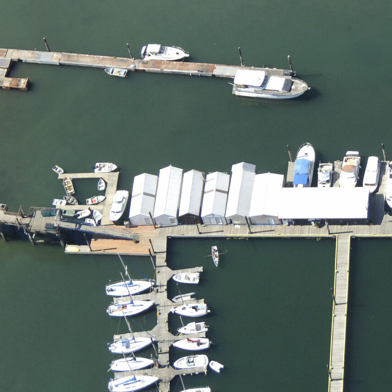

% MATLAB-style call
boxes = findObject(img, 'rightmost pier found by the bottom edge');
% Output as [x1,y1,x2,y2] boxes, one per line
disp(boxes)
[328,236,350,392]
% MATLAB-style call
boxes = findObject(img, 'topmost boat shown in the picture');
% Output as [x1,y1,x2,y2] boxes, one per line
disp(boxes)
[142,42,189,60]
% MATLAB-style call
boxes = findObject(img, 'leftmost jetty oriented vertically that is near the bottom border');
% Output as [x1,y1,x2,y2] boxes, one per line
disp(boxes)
[156,237,170,392]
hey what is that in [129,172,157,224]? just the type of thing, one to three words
building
